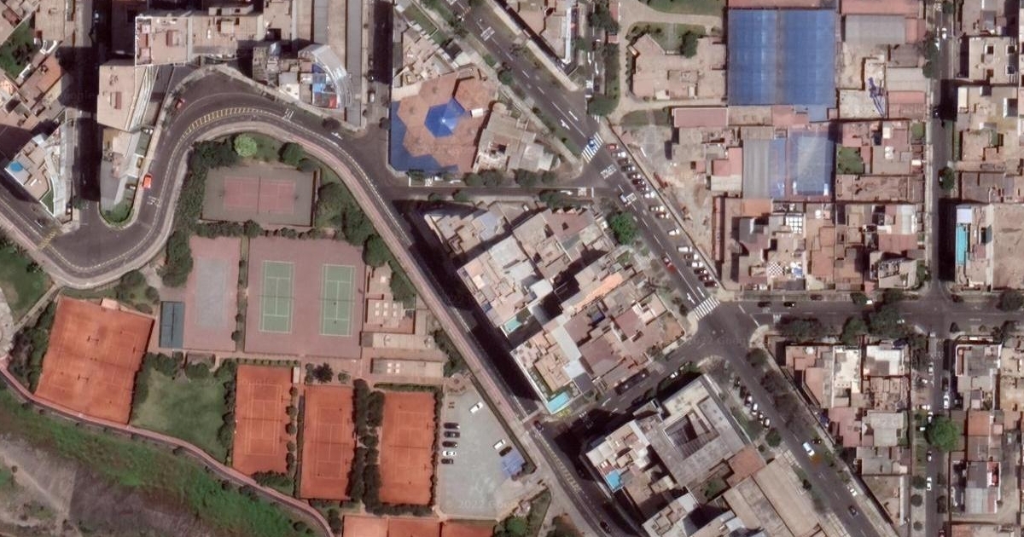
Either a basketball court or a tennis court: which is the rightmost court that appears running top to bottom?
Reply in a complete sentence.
I'd say the rightmost court that appears running top to bottom is a tennis court.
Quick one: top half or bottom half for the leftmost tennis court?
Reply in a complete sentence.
The leftmost tennis court is in the bottom half of the image.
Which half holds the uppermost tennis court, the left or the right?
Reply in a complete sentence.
The uppermost tennis court is on the left side of the image.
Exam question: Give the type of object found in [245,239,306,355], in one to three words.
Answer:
tennis court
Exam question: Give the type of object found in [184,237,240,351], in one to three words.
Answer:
sports court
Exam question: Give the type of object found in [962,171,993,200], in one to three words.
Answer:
house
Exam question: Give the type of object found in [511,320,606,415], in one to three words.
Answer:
building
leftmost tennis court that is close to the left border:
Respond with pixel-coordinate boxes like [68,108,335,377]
[35,296,107,410]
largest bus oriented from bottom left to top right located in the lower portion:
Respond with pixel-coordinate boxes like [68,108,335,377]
[616,370,648,393]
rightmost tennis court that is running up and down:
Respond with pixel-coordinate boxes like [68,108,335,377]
[378,392,434,504]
